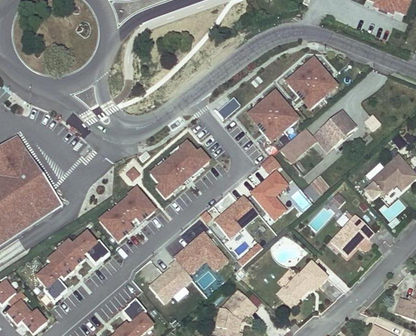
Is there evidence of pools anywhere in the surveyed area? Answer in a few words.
Yes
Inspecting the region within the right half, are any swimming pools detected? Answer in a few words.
Yes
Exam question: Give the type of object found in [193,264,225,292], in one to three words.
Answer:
swimming pool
